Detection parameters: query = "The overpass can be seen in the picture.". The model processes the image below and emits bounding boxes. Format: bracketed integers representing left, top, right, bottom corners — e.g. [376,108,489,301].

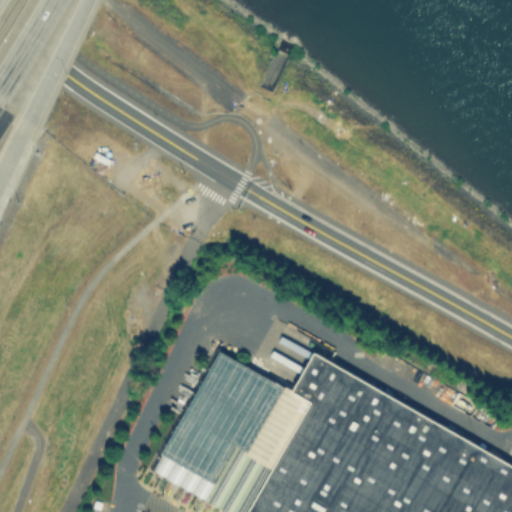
[0,0,102,230]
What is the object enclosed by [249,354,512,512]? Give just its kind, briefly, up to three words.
warehouse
